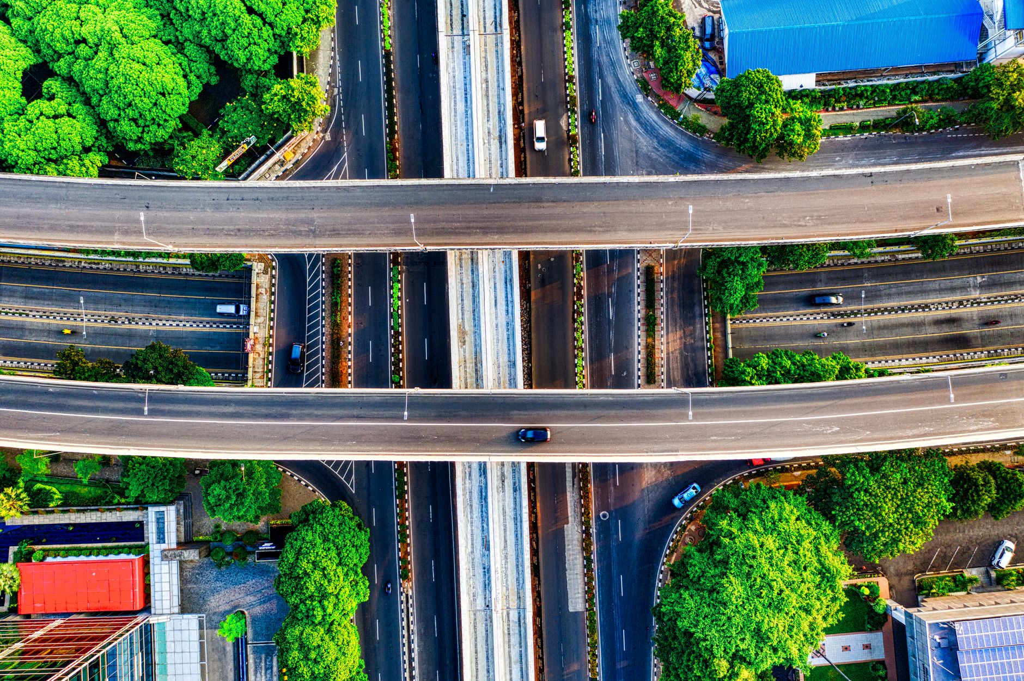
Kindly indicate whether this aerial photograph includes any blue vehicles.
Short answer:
Yes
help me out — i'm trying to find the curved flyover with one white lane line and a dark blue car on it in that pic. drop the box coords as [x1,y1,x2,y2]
[0,363,1024,463]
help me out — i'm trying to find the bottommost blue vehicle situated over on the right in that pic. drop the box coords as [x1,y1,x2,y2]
[672,483,704,509]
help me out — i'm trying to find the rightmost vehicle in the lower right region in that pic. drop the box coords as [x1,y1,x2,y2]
[994,541,1017,573]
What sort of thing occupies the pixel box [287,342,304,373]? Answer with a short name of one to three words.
car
